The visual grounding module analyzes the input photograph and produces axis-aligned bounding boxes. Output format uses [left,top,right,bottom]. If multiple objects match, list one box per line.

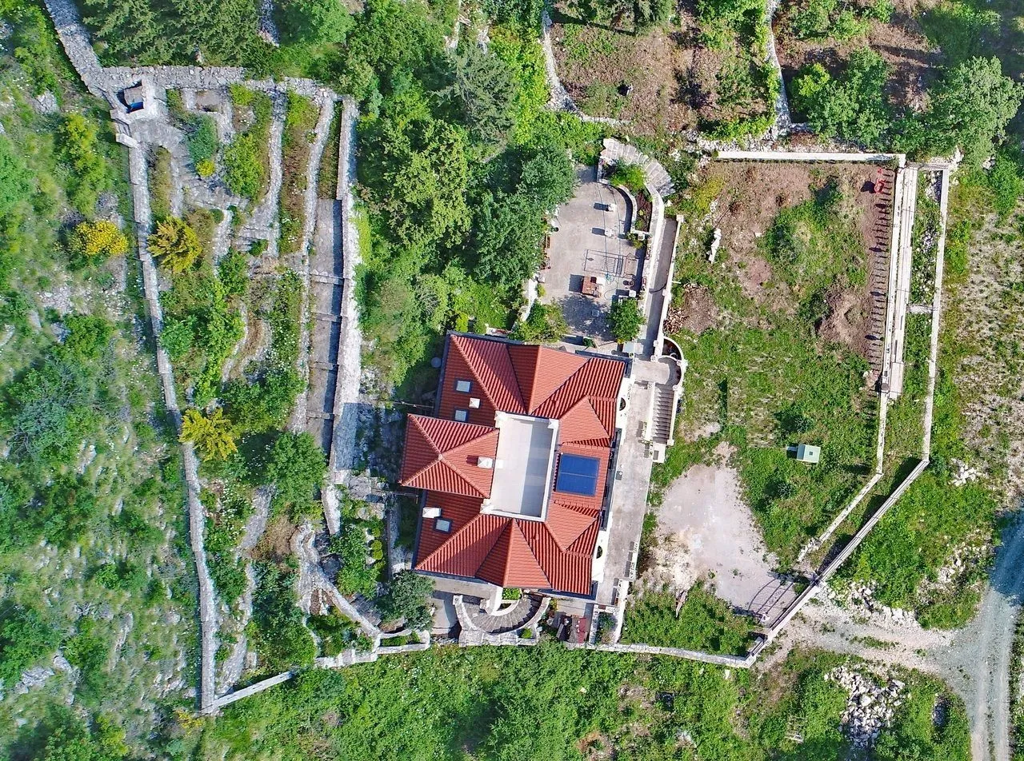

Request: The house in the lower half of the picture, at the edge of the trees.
[397,328,638,609]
